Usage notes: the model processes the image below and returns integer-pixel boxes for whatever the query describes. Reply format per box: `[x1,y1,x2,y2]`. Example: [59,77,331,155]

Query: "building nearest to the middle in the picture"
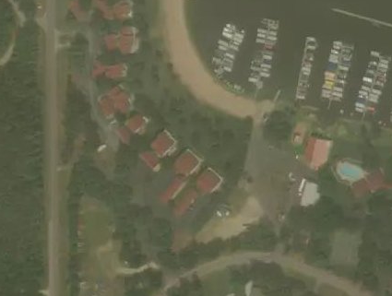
[174,149,201,176]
